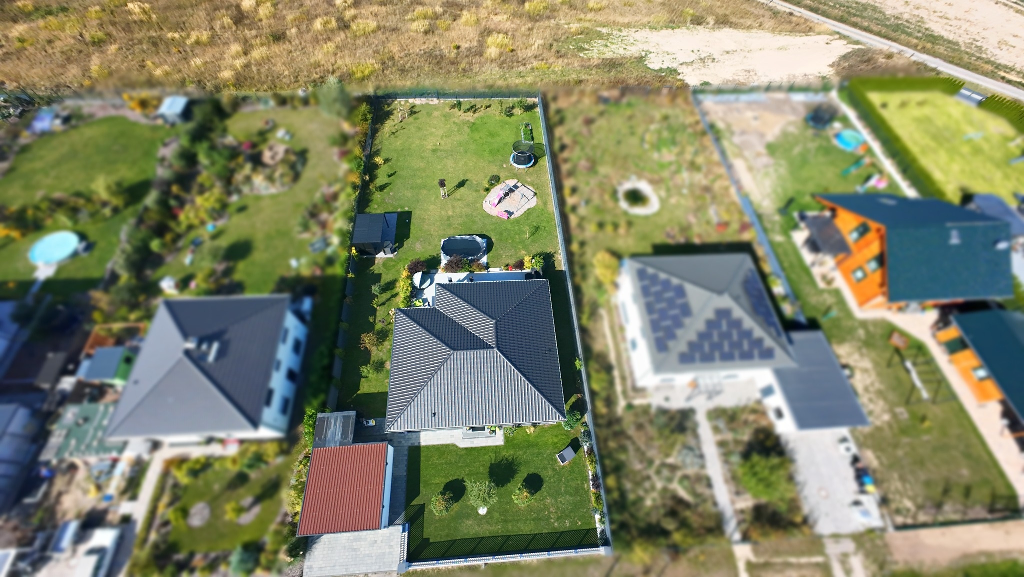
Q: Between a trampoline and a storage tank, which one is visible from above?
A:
trampoline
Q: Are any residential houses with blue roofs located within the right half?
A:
Yes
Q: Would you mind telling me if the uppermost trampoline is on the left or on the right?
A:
right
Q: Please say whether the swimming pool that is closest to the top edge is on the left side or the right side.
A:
right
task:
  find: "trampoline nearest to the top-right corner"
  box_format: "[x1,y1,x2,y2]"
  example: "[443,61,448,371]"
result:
[806,101,842,130]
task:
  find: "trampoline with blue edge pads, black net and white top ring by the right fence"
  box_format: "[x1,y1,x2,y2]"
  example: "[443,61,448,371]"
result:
[508,140,536,173]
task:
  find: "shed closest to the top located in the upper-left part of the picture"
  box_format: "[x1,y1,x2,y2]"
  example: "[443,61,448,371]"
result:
[156,95,191,128]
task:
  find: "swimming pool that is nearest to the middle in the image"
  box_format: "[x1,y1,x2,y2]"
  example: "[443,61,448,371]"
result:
[441,234,486,263]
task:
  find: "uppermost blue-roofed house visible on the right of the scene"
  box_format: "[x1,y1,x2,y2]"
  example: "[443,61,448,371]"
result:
[812,196,1015,309]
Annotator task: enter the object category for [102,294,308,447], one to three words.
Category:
house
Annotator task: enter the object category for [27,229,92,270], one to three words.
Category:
swimming pool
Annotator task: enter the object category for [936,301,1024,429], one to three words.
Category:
building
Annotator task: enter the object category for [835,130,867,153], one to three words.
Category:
swimming pool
